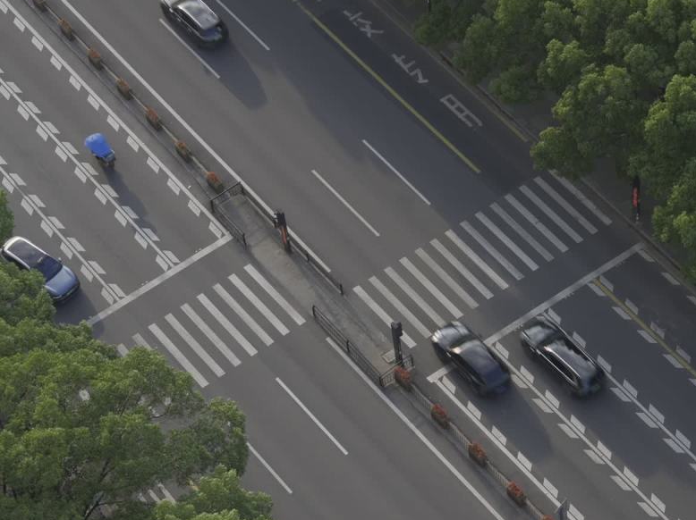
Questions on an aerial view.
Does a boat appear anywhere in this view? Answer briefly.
No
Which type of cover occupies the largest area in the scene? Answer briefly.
paved ground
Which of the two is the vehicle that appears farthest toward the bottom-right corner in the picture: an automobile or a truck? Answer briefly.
automobile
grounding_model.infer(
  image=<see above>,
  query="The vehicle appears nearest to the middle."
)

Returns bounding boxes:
[427,316,509,394]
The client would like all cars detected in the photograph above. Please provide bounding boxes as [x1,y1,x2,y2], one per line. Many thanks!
[427,316,509,394]
[518,313,602,393]
[160,0,226,39]
[0,237,77,302]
